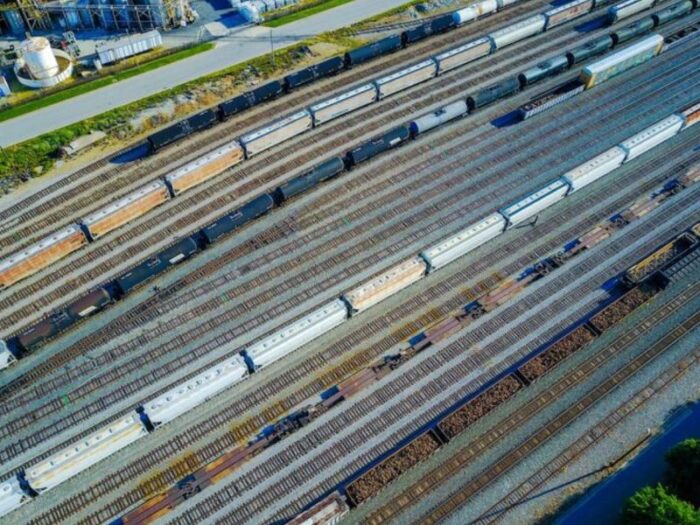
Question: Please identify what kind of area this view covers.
rail yard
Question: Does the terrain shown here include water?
No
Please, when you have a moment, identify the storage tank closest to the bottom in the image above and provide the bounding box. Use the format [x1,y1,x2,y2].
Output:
[19,31,63,79]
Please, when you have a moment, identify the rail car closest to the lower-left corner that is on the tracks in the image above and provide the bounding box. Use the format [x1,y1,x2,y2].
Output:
[0,473,32,517]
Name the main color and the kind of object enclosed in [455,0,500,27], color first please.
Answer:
white rail car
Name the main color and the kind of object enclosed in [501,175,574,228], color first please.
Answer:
white rail car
